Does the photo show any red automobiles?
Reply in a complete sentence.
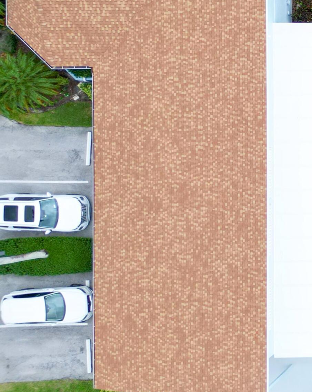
No, there is no red automobile in the image.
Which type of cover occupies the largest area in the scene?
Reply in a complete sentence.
The bulk of the photo consists of buildings.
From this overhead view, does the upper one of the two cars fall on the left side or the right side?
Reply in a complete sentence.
You can find the upper one of the two cars on the left side of the picture.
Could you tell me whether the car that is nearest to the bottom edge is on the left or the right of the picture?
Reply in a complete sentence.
It is on the left.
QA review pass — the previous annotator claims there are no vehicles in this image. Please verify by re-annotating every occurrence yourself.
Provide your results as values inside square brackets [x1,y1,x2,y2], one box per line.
[0,283,91,328]
[0,191,91,237]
